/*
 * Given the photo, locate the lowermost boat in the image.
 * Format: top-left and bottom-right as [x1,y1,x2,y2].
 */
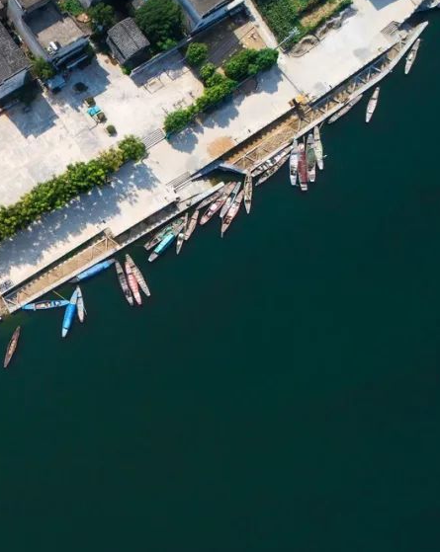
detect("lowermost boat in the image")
[4,328,20,367]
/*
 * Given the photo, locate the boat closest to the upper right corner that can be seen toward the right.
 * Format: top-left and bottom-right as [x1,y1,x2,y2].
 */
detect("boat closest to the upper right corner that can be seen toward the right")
[405,39,420,73]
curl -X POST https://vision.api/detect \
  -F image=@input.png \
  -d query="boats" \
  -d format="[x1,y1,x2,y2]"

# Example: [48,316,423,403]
[127,255,150,295]
[186,211,198,239]
[315,125,323,168]
[4,328,20,367]
[220,183,241,217]
[328,94,363,122]
[221,192,243,233]
[78,286,83,322]
[176,234,185,254]
[22,303,69,310]
[298,142,307,189]
[197,189,224,209]
[245,172,251,212]
[63,288,78,337]
[125,260,142,304]
[255,153,291,185]
[366,87,380,121]
[405,39,420,73]
[307,133,315,182]
[149,222,186,261]
[116,263,132,305]
[201,183,233,224]
[252,144,294,174]
[146,216,187,248]
[69,259,116,282]
[291,139,298,185]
